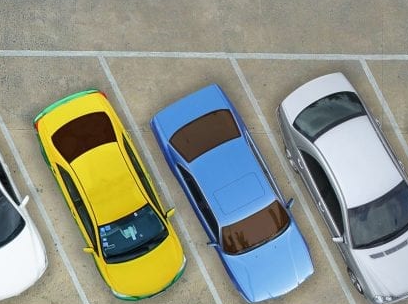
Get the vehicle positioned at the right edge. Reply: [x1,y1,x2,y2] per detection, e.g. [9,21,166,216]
[275,74,408,304]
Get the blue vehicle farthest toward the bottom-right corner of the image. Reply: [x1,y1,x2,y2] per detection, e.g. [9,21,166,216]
[148,88,311,304]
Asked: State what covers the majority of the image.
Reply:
paved ground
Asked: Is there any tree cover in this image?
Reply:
No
